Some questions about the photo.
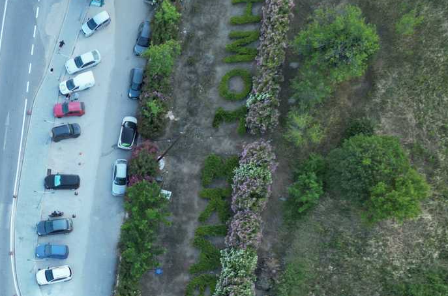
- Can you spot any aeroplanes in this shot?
No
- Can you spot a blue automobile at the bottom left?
Yes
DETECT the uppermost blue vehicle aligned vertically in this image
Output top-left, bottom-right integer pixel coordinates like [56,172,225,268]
[131,21,151,56]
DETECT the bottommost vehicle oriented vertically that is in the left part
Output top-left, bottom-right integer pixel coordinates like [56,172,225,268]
[111,160,127,195]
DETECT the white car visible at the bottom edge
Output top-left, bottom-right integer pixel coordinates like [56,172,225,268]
[36,267,73,284]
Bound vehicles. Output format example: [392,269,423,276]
[59,71,96,96]
[44,172,81,190]
[36,243,69,259]
[49,211,63,216]
[68,92,81,100]
[50,122,82,141]
[64,51,102,75]
[36,219,73,236]
[119,117,137,151]
[53,101,86,118]
[111,160,127,195]
[36,267,73,284]
[126,68,143,100]
[131,21,151,56]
